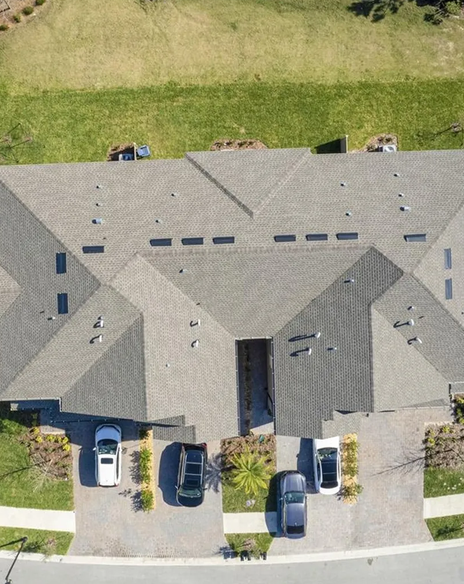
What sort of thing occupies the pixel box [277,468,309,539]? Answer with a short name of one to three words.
car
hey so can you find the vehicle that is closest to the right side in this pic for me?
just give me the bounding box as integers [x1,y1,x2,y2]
[310,437,342,495]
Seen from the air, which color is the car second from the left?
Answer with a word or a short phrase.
black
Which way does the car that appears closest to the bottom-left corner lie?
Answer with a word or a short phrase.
from top to bottom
